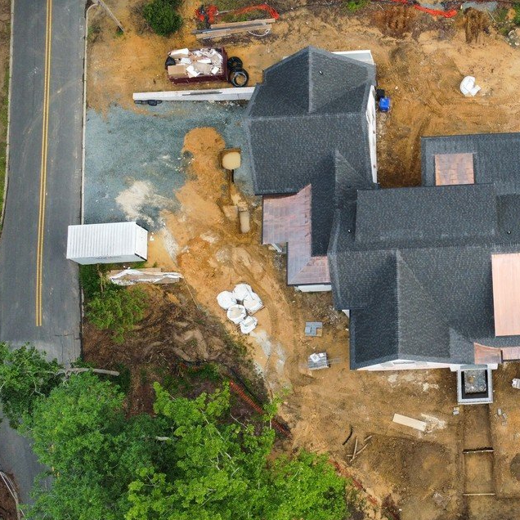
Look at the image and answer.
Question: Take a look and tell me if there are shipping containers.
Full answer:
Yes, a shipping container can be made out from above.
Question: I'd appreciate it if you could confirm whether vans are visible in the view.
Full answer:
No, there's no van here.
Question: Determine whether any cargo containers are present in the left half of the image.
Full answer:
Yes, looking in the left half of the image, one can make out a cargo container.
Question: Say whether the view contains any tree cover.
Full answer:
Yes, tree cover shows up in the scene.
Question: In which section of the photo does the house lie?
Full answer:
The house sits in the right section of the image.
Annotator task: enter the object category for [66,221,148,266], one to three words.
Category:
shipping container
